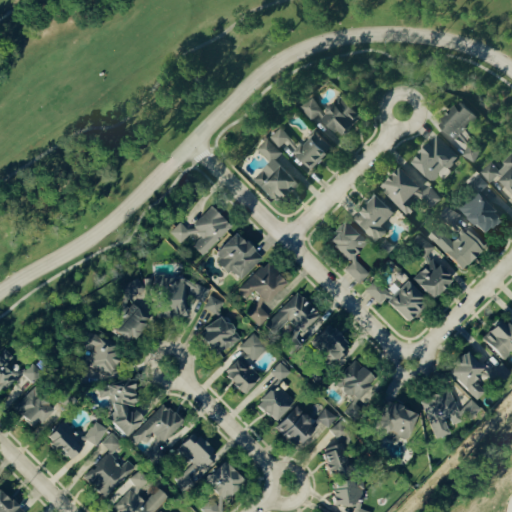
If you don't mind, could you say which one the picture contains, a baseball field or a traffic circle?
traffic circle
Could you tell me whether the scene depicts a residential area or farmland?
residential area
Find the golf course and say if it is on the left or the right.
left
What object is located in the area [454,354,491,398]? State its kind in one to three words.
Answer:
house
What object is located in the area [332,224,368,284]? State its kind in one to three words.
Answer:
house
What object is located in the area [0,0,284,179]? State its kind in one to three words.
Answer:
golf course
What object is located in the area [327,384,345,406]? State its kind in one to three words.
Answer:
swimming pool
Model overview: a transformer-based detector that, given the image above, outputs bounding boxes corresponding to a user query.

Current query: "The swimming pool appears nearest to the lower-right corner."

[381,440,413,462]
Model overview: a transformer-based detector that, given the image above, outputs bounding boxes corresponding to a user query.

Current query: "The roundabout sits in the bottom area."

[262,455,315,512]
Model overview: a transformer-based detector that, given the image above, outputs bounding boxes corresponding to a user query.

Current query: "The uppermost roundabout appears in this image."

[384,86,426,146]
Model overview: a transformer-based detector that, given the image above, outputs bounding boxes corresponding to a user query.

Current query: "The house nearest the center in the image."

[216,233,261,282]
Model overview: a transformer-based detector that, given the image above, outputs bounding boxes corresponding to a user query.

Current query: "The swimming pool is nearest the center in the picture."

[204,255,226,286]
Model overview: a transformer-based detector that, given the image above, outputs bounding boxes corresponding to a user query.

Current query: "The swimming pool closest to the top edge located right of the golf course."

[320,86,338,106]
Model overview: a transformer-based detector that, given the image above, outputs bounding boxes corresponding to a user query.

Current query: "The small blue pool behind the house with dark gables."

[136,437,156,456]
